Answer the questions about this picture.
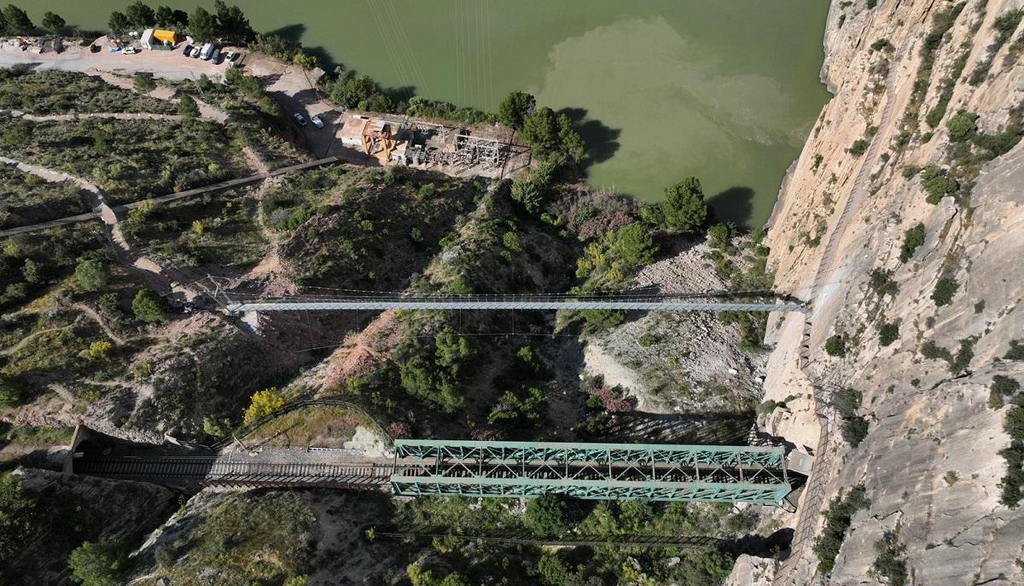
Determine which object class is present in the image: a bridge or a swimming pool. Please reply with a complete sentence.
Of the two, only a bridge appears.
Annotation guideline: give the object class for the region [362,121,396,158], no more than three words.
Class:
building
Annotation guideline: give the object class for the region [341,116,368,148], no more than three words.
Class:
building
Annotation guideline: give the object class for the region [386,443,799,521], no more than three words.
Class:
bridge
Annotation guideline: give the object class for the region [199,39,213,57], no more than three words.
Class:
vehicle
